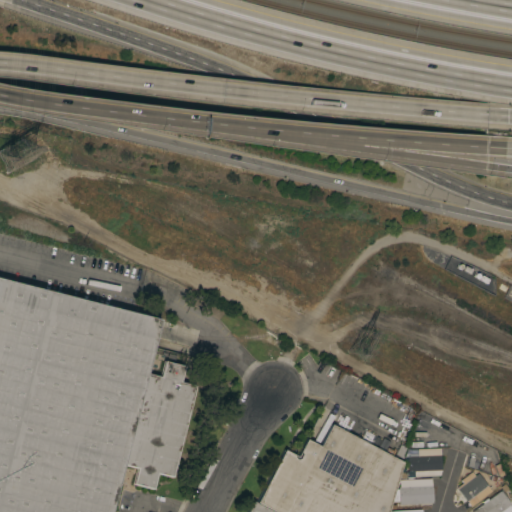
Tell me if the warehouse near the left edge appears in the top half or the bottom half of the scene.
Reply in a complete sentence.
You can find the warehouse near the left edge in the bottom half.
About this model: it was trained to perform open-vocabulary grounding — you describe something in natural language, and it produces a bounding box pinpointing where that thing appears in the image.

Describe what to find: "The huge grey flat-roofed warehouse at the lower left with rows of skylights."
[0,277,169,512]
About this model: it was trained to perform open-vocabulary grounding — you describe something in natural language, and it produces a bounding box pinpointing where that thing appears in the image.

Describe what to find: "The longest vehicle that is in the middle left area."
[78,277,122,291]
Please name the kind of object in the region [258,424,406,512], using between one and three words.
building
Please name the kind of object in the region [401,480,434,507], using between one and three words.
shed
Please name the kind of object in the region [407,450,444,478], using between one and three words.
building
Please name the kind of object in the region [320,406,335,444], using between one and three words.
vehicle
